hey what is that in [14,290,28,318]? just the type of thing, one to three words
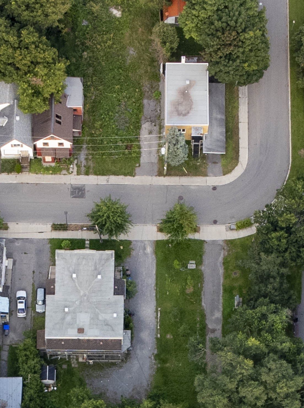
car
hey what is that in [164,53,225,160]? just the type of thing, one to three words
house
